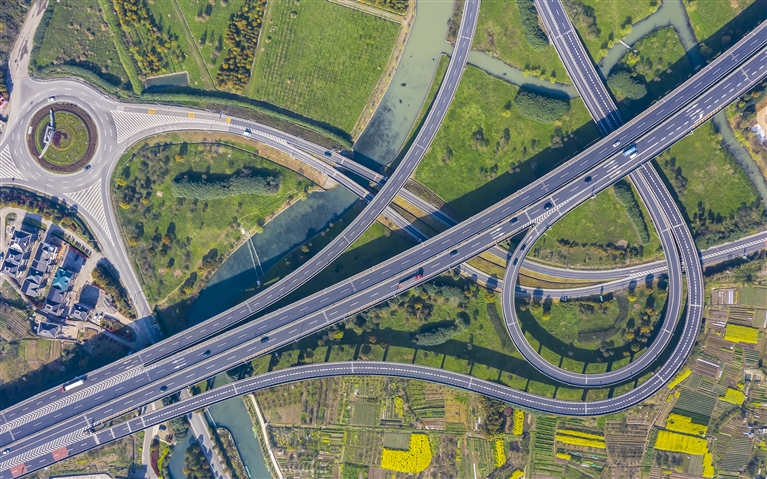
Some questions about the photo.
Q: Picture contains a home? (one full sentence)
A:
Yes, the frame does contain a home.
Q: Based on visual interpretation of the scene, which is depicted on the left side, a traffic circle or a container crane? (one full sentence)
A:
Visible on the left side is a traffic circle.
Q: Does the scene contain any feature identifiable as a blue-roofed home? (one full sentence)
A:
Yes, there's a blue-roofed home down there.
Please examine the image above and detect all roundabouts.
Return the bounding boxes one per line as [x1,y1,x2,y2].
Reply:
[26,101,99,175]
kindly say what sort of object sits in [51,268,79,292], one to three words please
house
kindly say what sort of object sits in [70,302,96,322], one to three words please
house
